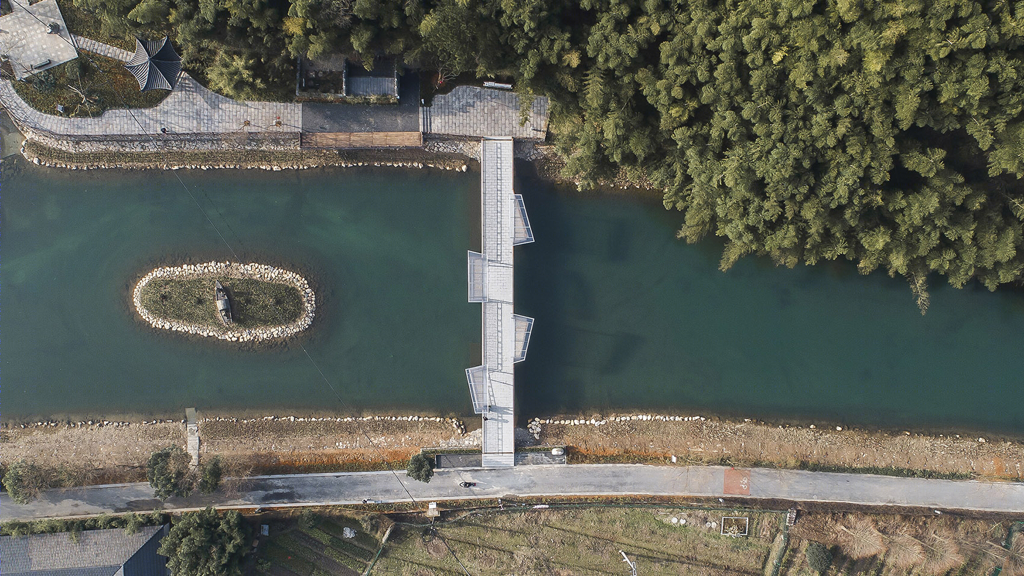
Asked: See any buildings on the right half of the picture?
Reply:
No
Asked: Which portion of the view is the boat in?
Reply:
left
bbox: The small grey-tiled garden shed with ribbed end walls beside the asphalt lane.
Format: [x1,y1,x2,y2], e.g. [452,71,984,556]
[344,53,399,100]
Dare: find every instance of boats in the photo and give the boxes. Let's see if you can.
[213,280,233,328]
